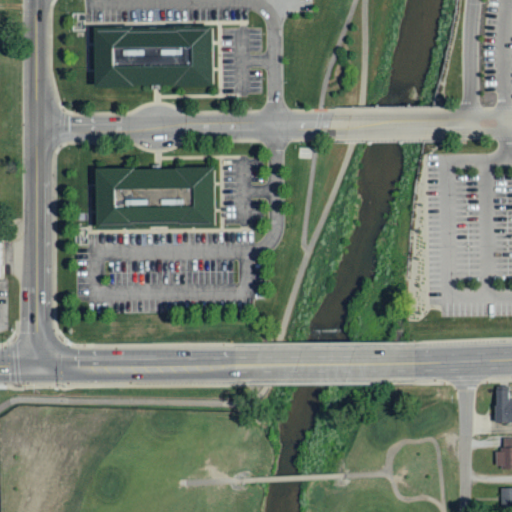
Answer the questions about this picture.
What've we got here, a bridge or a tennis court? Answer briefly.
bridge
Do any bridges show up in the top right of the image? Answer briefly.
Yes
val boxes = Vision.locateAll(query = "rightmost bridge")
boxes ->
[331,104,447,144]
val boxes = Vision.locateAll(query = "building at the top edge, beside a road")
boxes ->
[94,26,214,89]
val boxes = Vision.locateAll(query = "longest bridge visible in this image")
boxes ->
[230,342,416,387]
